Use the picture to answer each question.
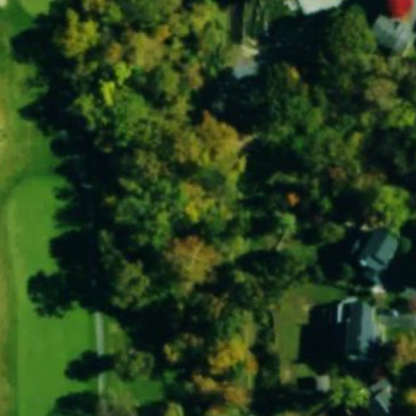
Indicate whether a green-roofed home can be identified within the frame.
Yes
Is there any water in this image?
No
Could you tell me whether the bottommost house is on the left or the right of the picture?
right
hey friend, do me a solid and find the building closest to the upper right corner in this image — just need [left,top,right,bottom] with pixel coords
[373,12,416,55]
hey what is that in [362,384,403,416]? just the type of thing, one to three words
house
